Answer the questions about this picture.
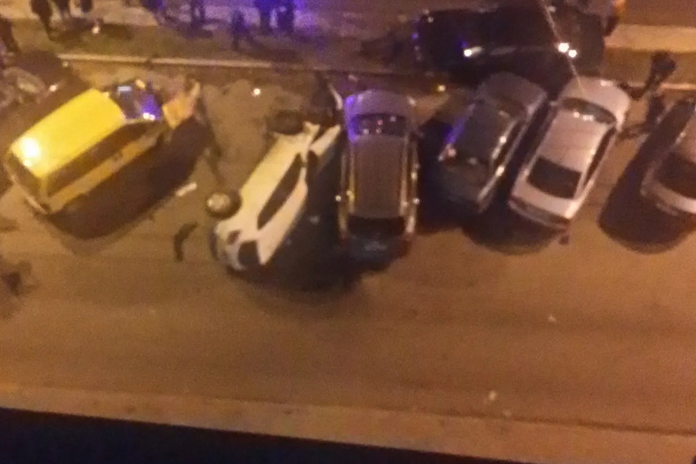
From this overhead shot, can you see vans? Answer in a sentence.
Yes, this view includes a van.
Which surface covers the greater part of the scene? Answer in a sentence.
For the most part, this view shows paved ground.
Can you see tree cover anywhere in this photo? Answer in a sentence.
No, tree cover can't be seen anywhere here.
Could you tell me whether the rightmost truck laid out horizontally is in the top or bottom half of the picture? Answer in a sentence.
It is in the top half that the rightmost truck laid out horizontally appears.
